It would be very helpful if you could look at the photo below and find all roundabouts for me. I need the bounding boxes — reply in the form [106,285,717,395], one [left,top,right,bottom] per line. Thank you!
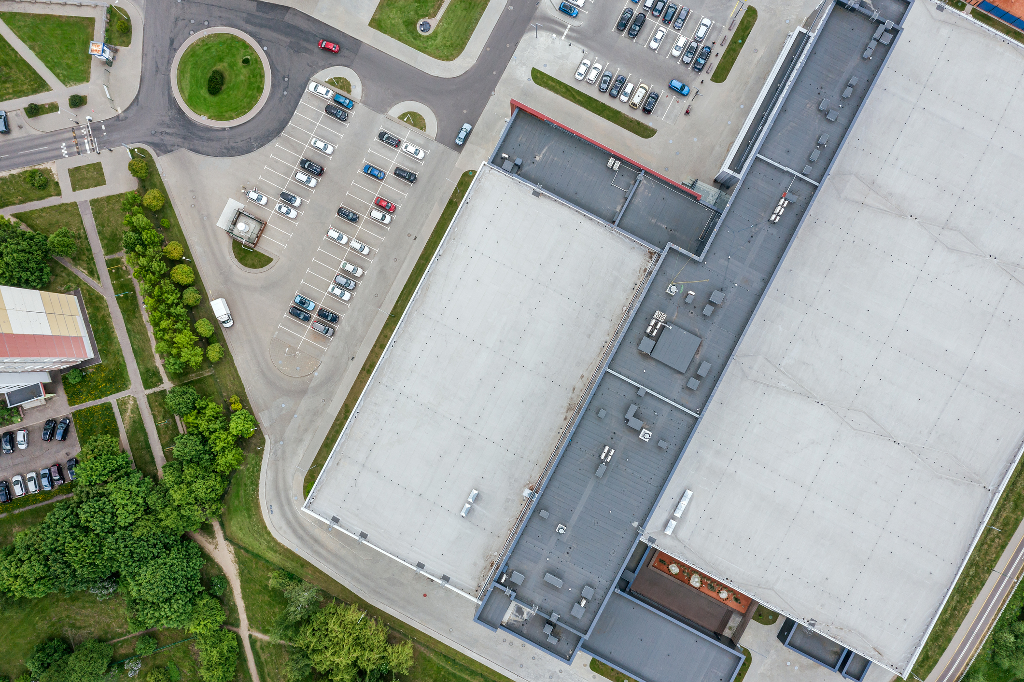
[171,27,270,126]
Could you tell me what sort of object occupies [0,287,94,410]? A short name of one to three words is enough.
building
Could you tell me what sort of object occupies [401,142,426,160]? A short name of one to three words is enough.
car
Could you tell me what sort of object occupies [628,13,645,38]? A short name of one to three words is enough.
car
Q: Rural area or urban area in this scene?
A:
urban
